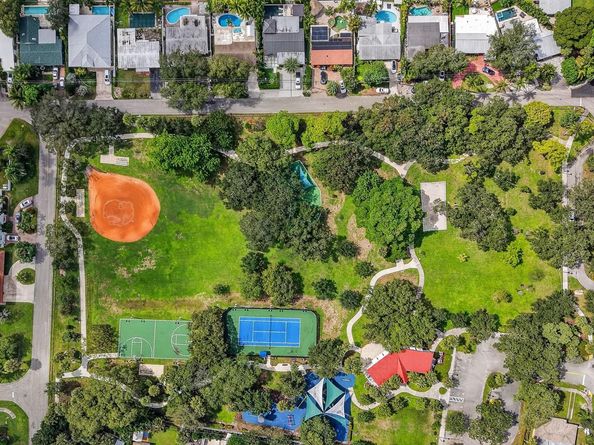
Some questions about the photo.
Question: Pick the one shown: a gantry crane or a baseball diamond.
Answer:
baseball diamond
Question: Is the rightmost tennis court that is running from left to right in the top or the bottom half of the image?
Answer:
bottom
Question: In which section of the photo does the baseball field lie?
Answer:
left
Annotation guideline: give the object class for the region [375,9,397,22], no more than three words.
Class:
swimming pool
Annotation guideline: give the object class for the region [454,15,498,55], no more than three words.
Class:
house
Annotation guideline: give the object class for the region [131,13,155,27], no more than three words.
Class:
swimming pool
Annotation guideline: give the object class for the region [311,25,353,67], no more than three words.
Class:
house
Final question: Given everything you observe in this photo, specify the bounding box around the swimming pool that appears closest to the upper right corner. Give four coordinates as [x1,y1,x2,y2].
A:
[497,7,517,21]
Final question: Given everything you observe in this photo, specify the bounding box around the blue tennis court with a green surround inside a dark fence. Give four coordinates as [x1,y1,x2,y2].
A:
[224,310,318,356]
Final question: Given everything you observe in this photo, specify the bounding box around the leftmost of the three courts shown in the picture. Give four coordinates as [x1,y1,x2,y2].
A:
[119,320,198,359]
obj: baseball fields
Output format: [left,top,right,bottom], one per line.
[86,167,160,243]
